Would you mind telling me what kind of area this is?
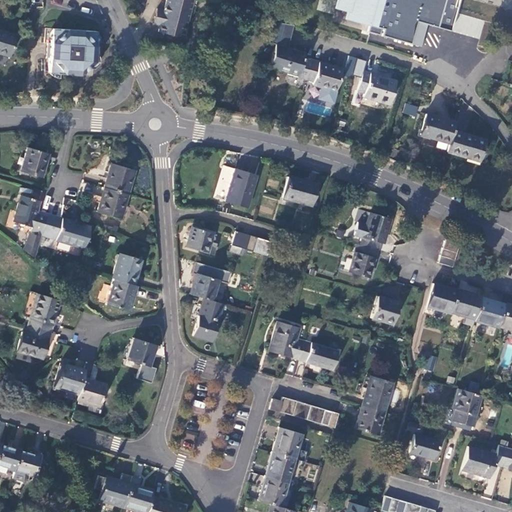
residential area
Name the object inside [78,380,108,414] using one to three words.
house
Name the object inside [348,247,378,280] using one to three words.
house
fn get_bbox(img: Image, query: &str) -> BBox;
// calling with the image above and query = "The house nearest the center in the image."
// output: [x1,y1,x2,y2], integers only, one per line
[228,232,270,258]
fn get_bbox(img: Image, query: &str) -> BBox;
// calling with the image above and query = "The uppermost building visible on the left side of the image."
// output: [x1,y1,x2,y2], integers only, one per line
[149,0,194,41]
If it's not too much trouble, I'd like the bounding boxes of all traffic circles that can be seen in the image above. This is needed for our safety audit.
[132,102,176,146]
